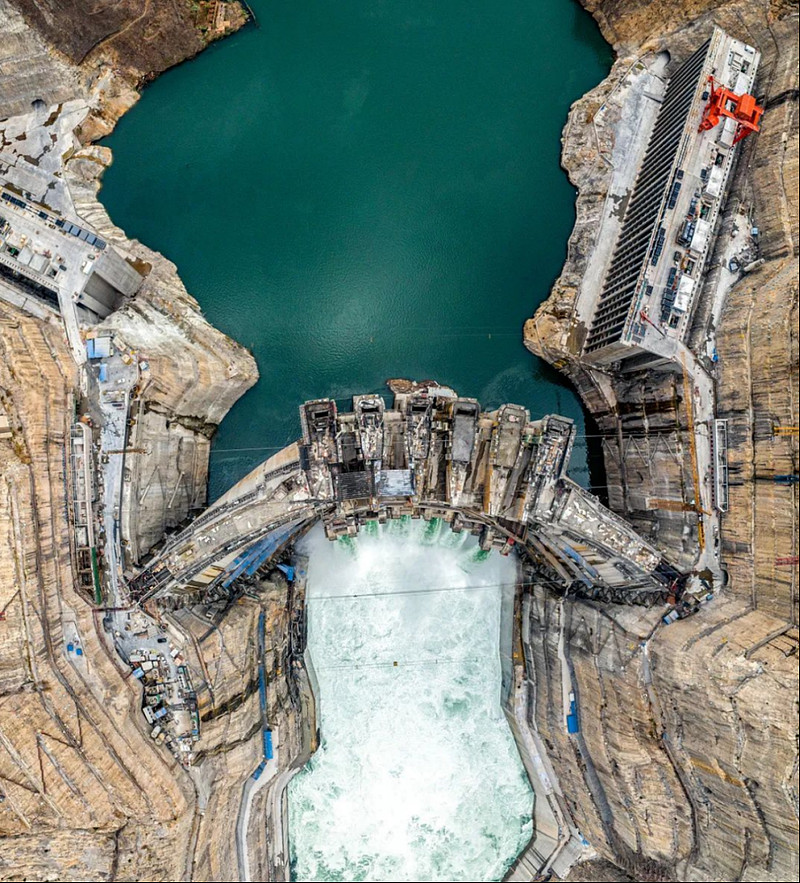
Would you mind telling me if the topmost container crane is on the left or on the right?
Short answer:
right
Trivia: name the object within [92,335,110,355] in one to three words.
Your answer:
shed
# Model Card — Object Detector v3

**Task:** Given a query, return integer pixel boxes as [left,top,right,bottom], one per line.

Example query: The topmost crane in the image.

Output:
[679,62,764,132]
